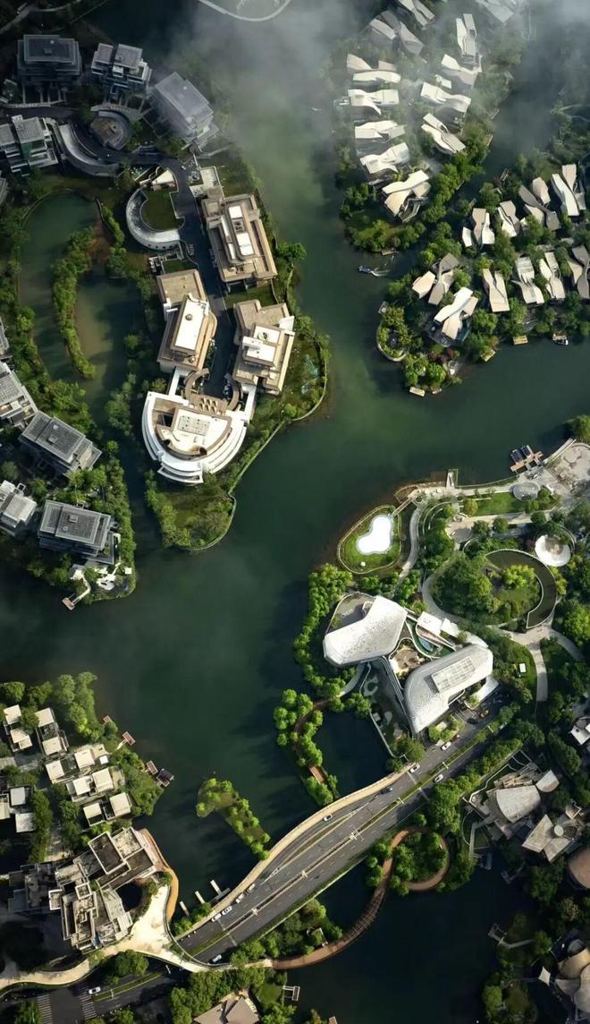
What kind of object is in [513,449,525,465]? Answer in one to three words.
boat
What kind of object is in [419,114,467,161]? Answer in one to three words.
house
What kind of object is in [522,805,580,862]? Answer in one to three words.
house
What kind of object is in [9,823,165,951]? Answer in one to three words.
building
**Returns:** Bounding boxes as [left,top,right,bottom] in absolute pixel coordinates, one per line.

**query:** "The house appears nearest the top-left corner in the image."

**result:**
[19,35,83,112]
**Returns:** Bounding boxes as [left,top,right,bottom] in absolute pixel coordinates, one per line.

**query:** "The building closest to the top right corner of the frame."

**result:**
[472,0,528,32]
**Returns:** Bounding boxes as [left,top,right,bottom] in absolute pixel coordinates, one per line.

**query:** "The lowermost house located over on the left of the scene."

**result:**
[193,991,260,1024]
